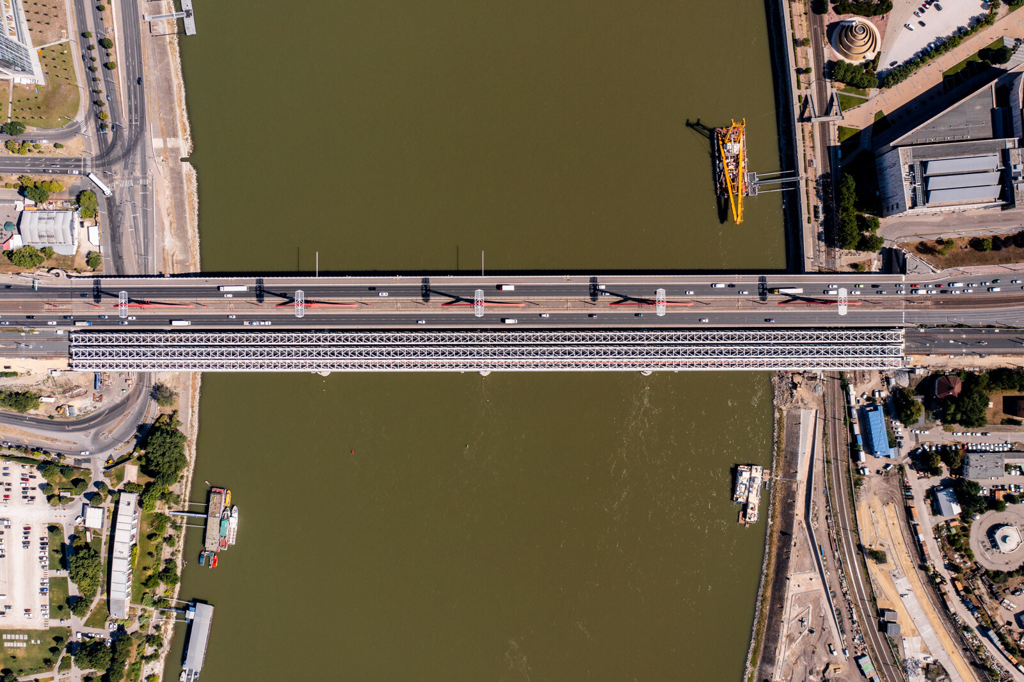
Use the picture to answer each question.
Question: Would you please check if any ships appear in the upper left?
No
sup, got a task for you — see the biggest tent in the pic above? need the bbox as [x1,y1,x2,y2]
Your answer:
[19,210,80,256]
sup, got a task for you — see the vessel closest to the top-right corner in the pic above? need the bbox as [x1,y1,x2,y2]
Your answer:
[714,117,748,226]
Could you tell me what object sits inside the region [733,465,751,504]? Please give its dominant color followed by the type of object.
white ship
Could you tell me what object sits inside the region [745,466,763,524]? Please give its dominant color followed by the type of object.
white ship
